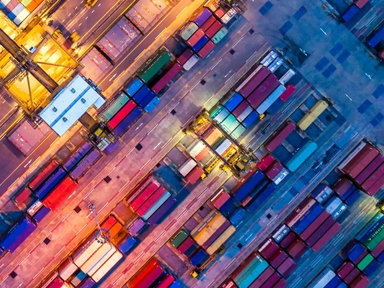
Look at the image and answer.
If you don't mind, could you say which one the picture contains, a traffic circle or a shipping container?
shipping container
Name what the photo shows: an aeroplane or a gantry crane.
gantry crane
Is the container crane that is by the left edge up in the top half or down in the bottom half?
top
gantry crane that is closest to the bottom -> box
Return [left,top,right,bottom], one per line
[183,113,261,183]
